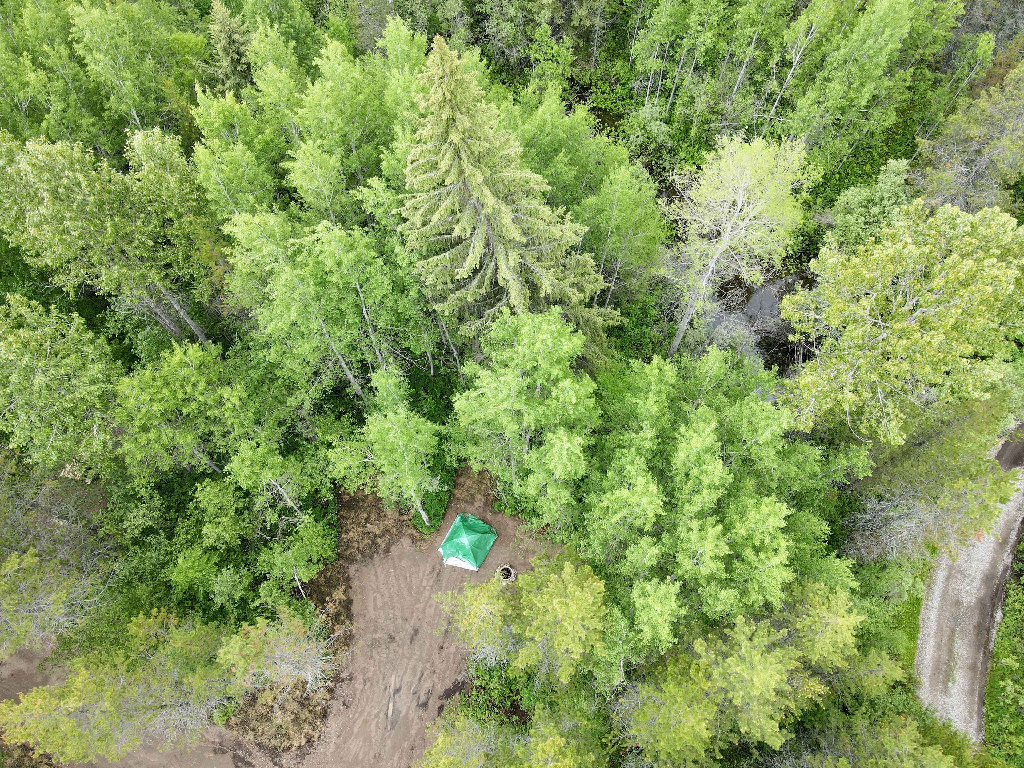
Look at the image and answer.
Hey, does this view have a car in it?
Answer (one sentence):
No, I find no car anywhere in the image.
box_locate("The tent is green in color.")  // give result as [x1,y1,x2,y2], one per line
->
[436,512,499,574]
